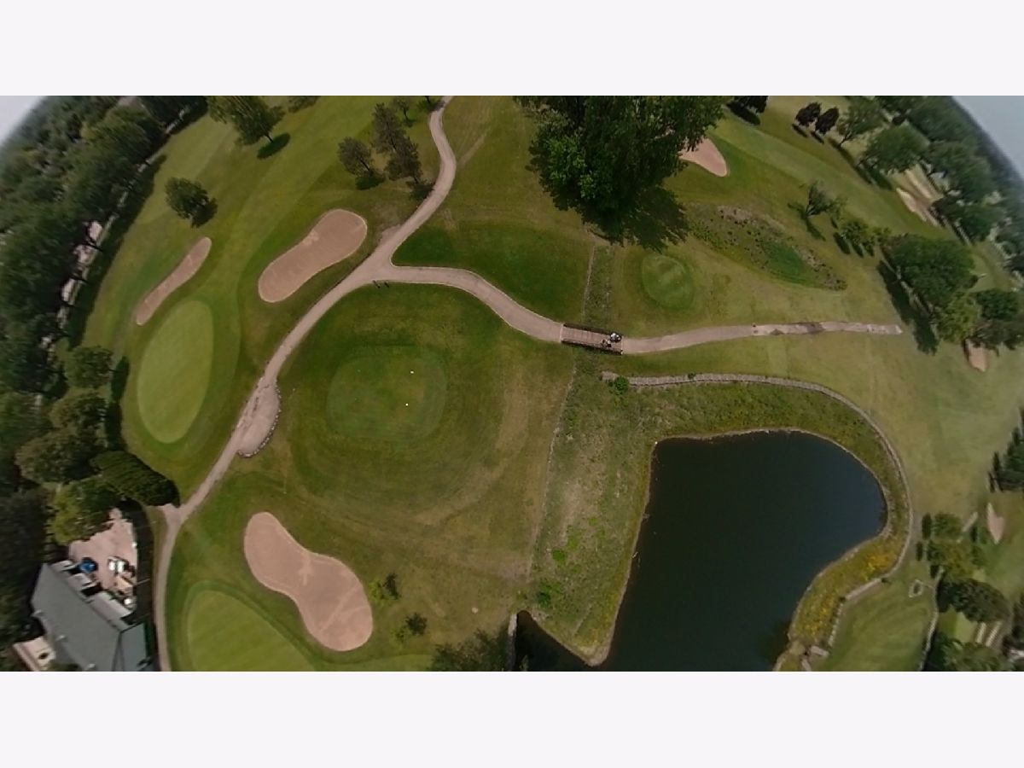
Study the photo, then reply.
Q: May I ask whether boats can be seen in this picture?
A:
No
